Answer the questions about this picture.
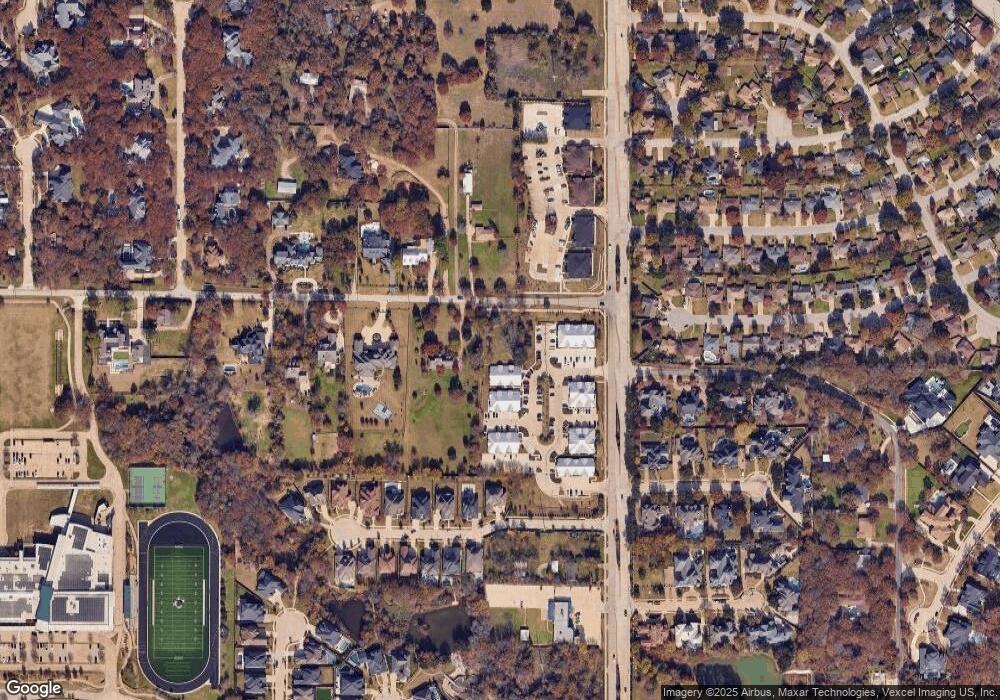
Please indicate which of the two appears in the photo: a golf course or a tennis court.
tennis court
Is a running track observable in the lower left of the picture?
Yes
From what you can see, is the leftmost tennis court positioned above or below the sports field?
above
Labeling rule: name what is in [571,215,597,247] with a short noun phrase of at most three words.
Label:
building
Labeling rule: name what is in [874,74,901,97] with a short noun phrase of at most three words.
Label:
house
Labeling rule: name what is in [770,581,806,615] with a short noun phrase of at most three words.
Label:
house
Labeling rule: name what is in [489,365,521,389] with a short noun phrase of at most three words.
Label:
building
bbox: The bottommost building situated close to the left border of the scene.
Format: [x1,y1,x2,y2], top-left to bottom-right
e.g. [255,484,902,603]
[0,504,113,631]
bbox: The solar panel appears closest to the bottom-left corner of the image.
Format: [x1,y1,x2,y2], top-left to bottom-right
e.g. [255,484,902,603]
[52,598,104,622]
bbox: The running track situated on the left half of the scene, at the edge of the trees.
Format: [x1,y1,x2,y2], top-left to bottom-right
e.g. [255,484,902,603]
[138,512,220,693]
